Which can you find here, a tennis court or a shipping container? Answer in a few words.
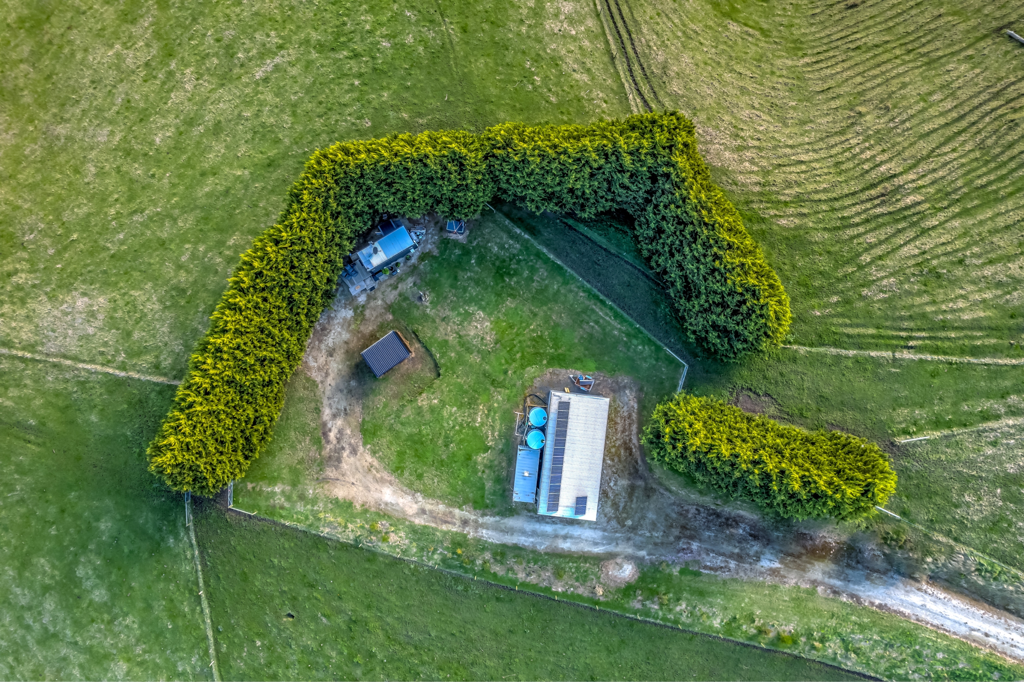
shipping container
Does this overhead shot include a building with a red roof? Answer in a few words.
No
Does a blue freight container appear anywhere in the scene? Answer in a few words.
Yes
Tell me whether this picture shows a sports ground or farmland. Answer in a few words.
farmland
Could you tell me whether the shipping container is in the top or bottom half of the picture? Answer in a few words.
bottom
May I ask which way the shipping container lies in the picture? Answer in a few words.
vertically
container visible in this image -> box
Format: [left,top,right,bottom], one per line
[512,444,541,504]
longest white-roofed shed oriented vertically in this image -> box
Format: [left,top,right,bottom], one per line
[536,391,610,521]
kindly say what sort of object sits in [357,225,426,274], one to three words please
house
